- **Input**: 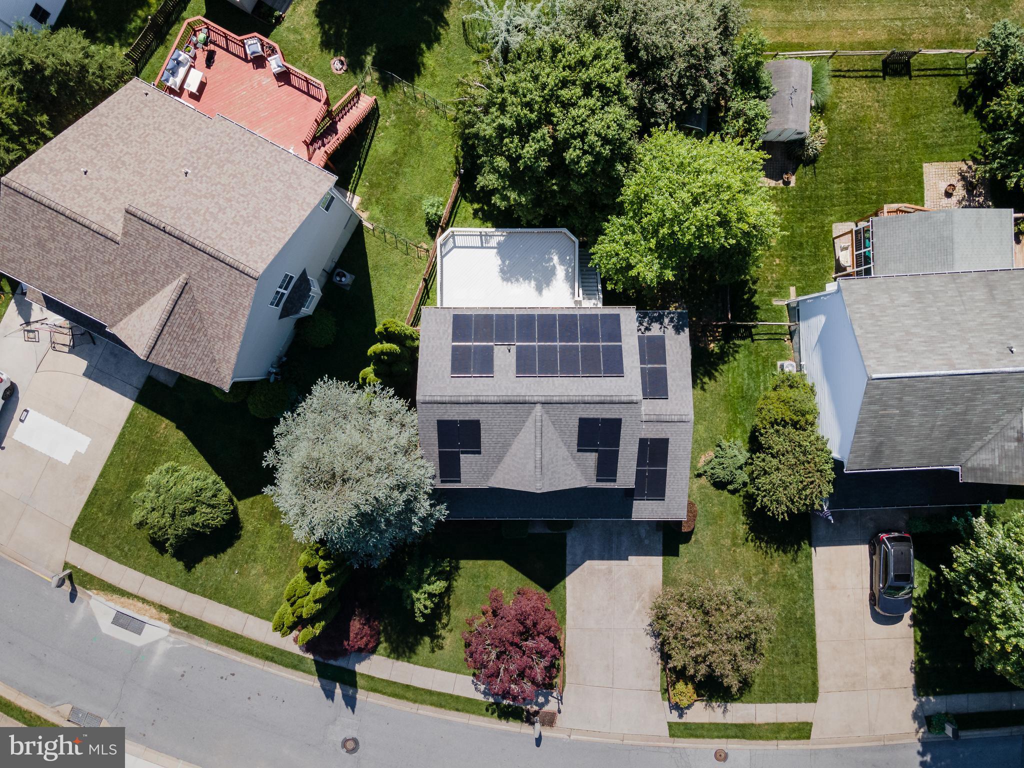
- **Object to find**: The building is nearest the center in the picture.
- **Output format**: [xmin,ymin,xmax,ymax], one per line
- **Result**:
[416,305,695,522]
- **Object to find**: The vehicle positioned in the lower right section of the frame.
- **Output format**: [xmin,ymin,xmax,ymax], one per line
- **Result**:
[872,529,919,616]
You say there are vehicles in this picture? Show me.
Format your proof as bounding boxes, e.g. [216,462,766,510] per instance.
[0,371,14,411]
[872,529,919,616]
